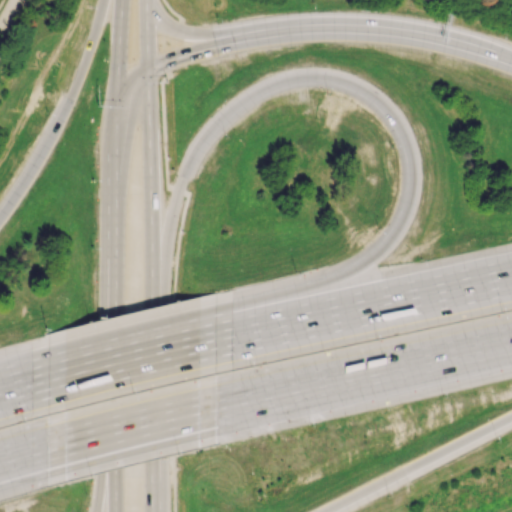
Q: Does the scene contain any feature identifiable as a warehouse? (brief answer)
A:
No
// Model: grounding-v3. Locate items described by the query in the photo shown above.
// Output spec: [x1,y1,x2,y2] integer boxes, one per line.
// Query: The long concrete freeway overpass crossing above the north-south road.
[49,294,216,486]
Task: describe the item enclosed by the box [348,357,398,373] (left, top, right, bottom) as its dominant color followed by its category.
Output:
white vehicle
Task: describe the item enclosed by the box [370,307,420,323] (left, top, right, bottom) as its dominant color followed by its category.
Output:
white vehicle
